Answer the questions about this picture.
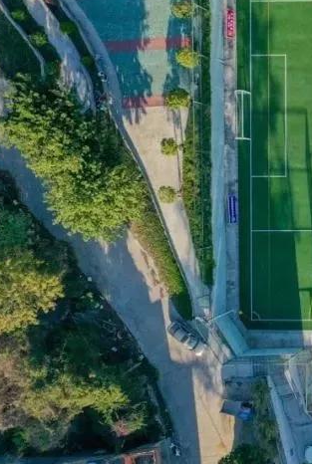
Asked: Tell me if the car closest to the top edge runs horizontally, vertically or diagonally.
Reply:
diagonally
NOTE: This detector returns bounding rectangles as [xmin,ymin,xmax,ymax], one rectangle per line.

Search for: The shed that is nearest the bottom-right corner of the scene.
[213,399,250,423]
